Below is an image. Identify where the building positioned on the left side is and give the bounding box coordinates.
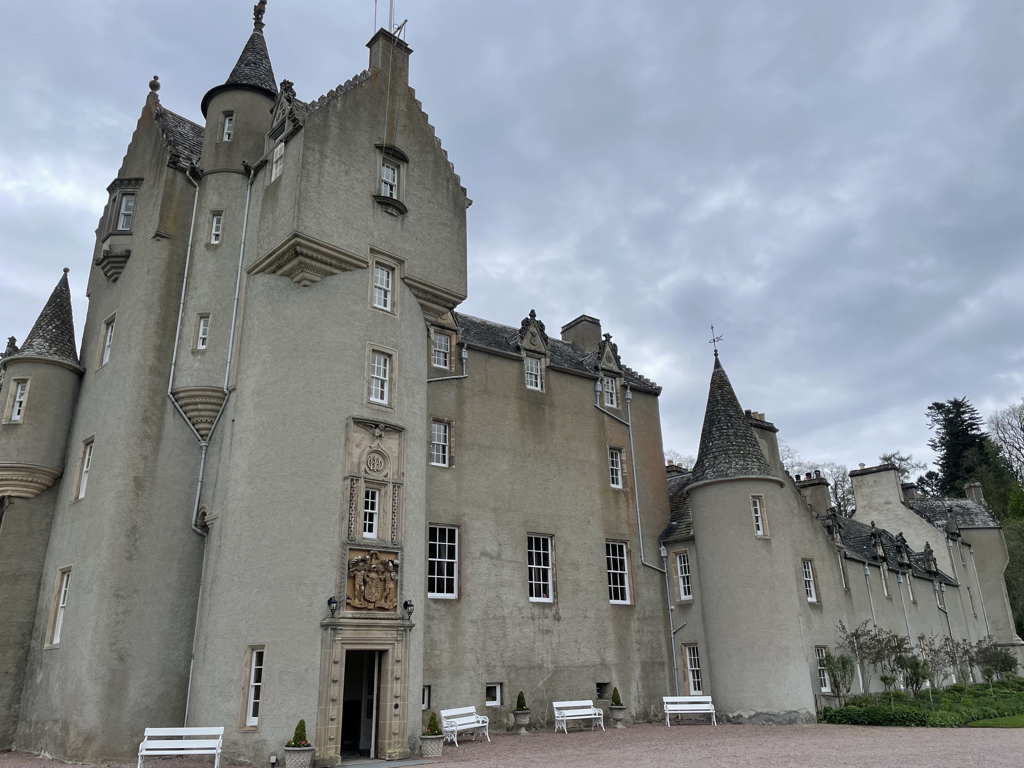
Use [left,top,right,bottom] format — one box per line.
[0,0,689,768]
